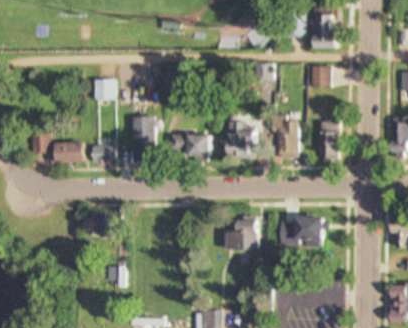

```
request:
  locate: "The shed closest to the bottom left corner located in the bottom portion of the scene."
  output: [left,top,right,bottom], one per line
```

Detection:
[108,264,130,289]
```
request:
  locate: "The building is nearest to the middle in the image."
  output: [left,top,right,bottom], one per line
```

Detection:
[171,130,212,162]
